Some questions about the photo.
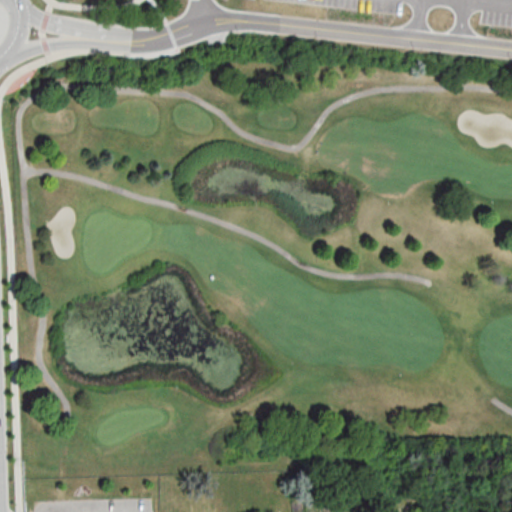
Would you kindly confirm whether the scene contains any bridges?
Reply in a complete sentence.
No, I can see no bridge in this picture.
